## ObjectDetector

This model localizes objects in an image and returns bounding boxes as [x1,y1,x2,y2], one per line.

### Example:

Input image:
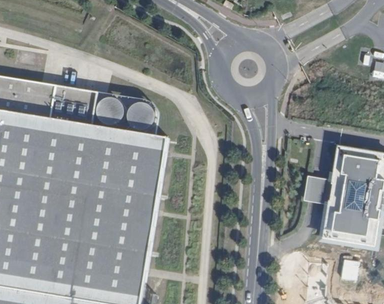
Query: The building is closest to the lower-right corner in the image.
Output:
[342,260,360,282]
